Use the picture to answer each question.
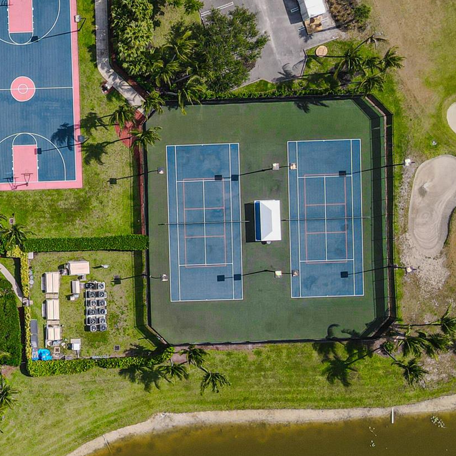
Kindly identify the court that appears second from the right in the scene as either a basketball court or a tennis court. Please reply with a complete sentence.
I'd identify the court that appears second from the right as a tennis court.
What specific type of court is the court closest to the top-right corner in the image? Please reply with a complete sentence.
The court closest to the top-right corner is a tennis court.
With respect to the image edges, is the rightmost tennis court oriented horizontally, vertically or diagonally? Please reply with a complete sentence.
The rightmost tennis court runs vertically in the image.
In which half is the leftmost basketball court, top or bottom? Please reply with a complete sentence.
Seen from above, the leftmost basketball court lies in the top half of the view.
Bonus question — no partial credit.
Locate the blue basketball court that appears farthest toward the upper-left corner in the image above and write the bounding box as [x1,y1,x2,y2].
[0,0,77,184]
